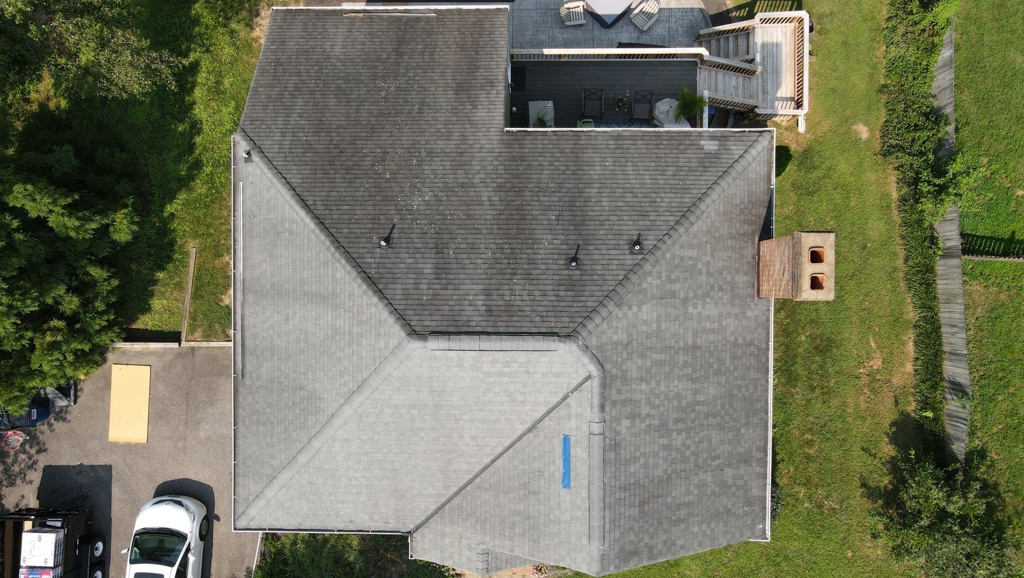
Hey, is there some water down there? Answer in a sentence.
No, the scene doesn't show any water.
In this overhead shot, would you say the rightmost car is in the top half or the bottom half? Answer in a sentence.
The bottom half of the photo is where the rightmost car is.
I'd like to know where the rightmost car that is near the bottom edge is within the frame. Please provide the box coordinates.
[124,490,204,578]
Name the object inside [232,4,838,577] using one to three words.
house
